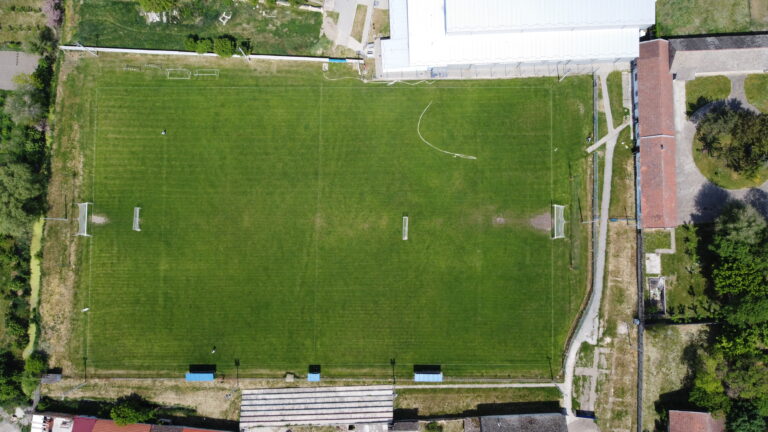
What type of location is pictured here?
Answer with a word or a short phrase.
sports ground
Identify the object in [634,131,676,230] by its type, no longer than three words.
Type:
building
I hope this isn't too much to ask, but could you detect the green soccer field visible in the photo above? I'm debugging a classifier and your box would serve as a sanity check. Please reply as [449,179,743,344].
[82,82,560,372]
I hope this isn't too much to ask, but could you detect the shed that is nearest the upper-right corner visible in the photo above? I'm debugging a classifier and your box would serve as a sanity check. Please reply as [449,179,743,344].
[672,33,768,75]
